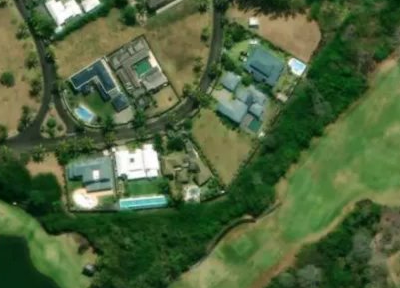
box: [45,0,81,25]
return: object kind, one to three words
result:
house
